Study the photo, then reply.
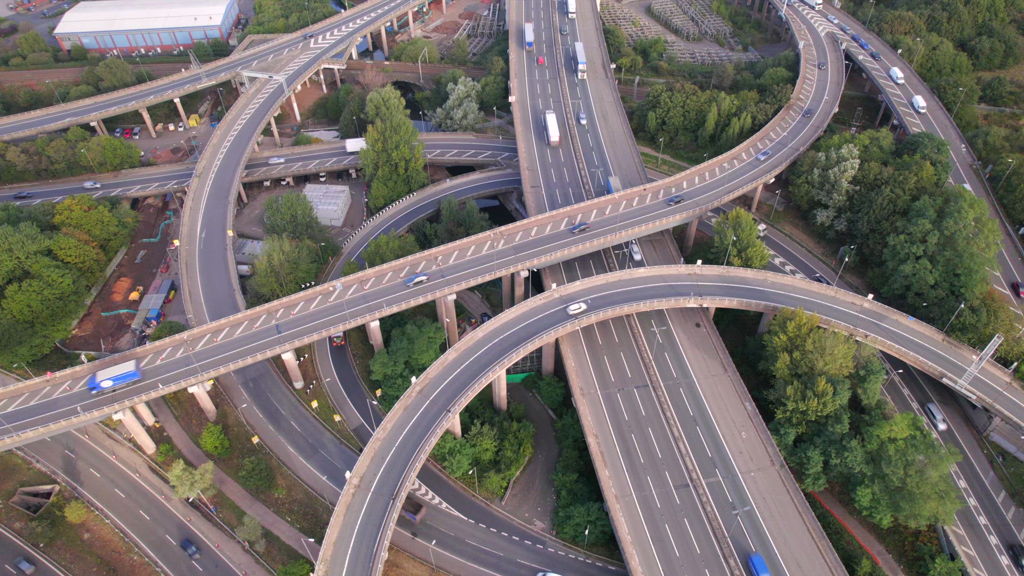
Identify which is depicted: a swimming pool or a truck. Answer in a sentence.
This aerial view contains a truck.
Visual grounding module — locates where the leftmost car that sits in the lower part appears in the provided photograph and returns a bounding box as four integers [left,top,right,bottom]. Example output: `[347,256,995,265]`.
[13,555,36,573]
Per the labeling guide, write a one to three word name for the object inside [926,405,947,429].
car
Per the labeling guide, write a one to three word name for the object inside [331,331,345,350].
vehicle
